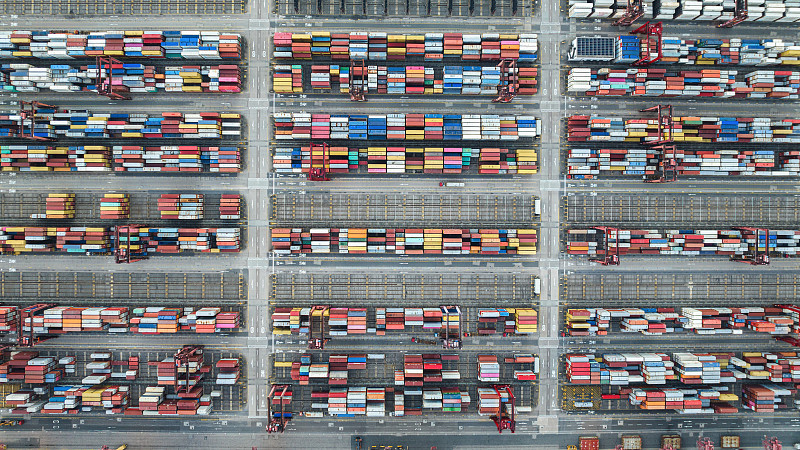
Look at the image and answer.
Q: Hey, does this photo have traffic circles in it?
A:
No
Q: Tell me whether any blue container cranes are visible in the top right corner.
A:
No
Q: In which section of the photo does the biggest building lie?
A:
top right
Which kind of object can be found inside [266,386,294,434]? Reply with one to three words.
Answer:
container crane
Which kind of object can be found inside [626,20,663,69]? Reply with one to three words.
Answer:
container crane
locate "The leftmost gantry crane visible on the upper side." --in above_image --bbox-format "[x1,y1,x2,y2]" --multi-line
[20,101,62,143]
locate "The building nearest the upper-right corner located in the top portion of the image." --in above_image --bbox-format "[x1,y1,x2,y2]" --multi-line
[567,36,614,65]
